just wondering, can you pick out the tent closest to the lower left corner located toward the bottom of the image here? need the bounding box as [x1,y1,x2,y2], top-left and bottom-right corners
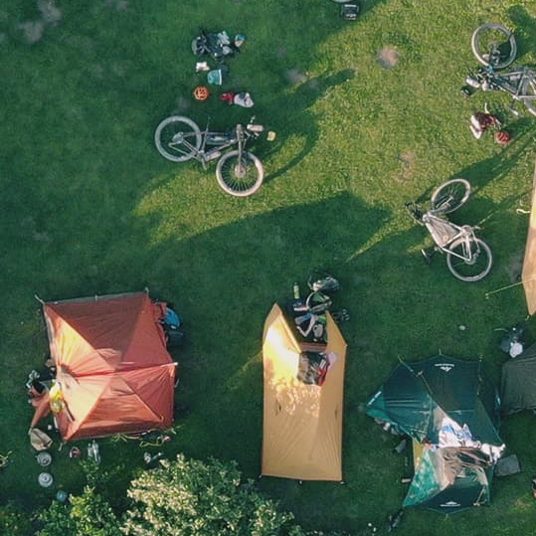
[29,291,179,450]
